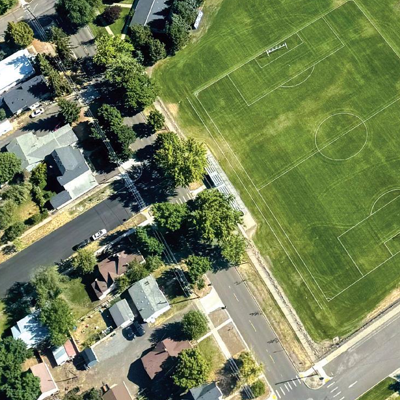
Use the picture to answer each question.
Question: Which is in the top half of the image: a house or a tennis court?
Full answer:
Looking in the top half of the image, you will find a house.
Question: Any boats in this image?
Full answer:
No, there isn't any boat down there.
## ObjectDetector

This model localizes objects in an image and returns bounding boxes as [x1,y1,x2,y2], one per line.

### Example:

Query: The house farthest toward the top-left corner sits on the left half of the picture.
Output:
[0,49,37,98]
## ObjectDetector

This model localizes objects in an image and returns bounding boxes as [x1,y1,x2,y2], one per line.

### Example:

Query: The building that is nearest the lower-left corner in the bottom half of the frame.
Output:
[32,358,60,400]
